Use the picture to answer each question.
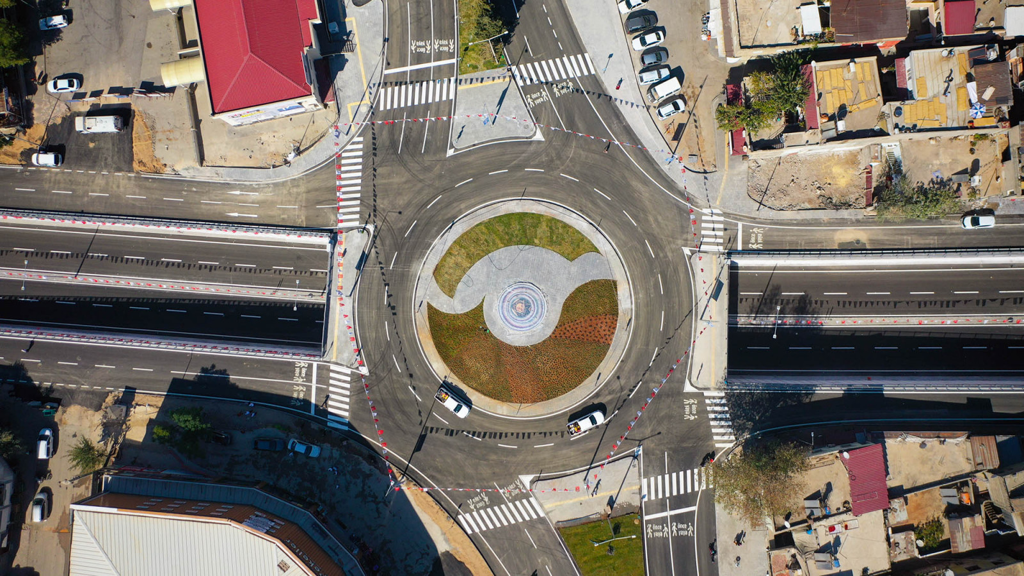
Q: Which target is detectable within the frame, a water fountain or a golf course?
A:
water fountain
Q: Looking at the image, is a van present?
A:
Yes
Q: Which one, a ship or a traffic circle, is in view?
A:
traffic circle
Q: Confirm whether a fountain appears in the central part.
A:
Yes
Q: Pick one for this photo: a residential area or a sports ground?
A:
residential area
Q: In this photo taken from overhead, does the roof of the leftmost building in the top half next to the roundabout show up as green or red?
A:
red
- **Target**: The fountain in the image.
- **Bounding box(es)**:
[498,283,547,331]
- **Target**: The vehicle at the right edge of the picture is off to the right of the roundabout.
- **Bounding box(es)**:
[958,212,995,230]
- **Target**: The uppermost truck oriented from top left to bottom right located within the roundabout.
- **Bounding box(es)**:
[435,387,473,416]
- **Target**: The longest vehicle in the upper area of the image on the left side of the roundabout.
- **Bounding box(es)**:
[80,117,129,136]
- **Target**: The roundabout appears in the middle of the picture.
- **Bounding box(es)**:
[320,53,742,541]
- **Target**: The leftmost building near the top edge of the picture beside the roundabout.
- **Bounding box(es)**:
[189,0,330,126]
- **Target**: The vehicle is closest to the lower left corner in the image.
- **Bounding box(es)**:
[33,489,52,520]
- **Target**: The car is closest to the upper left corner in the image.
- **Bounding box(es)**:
[41,16,72,33]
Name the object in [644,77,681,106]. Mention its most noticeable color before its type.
white van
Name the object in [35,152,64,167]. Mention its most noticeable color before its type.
white car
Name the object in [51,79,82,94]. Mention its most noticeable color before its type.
white car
